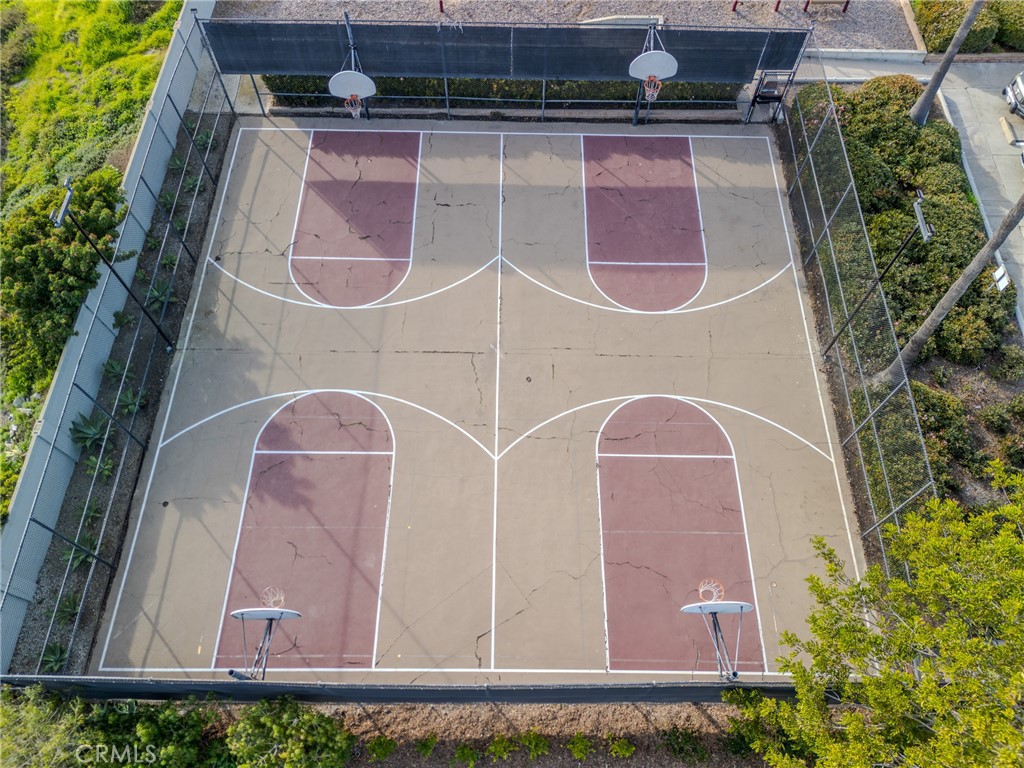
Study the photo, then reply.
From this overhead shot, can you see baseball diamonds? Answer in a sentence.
No, no baseball diamond is visible in the scene.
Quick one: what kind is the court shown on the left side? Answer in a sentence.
It turns out the court shown on the left side is a basketball court.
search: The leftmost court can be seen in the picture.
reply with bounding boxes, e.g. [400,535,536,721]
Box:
[79,116,503,689]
